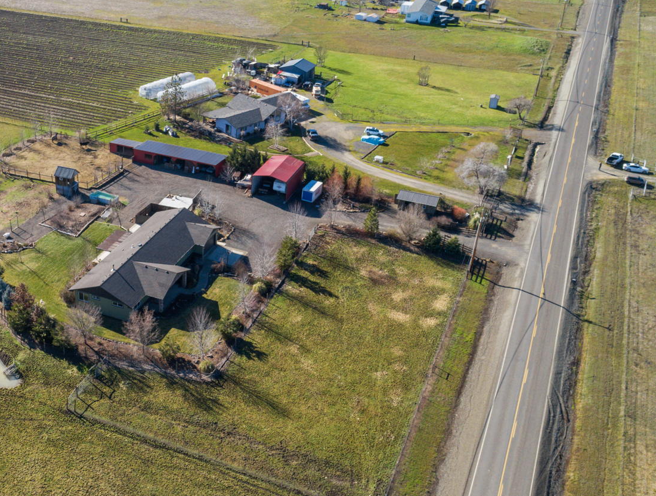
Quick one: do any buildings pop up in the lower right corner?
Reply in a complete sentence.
No, there's no building to be seen in the lower right corner.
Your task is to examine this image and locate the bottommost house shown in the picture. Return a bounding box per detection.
[68,206,222,321]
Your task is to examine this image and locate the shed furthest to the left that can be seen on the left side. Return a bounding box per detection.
[51,166,82,200]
